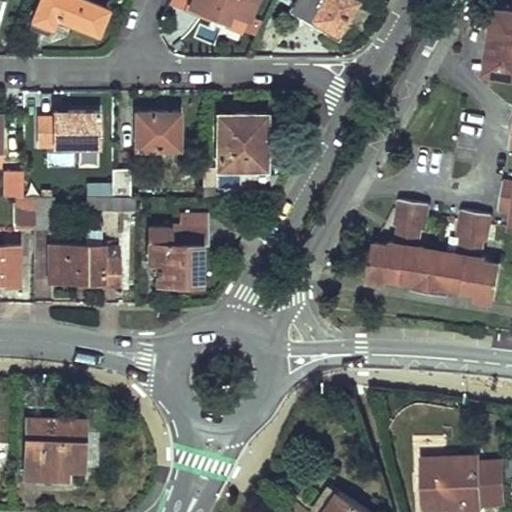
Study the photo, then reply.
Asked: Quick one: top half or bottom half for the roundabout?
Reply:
bottom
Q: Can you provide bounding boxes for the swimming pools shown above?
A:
[219,178,240,189]
[79,153,100,168]
[194,24,218,45]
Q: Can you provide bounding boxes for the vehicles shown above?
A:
[189,74,212,84]
[250,74,272,84]
[161,73,181,83]
[192,333,216,344]
[8,130,18,153]
[430,151,442,174]
[330,136,344,148]
[460,111,485,126]
[201,412,223,423]
[469,26,480,44]
[280,200,294,219]
[6,74,26,84]
[460,124,482,137]
[126,10,138,30]
[121,122,132,148]
[74,352,104,366]
[126,367,147,382]
[496,150,507,170]
[417,149,428,172]
[344,356,365,366]
[40,96,50,114]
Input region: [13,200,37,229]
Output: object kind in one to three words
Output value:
shed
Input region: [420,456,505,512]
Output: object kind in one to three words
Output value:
house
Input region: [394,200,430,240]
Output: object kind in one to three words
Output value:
building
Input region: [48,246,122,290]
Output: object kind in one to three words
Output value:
house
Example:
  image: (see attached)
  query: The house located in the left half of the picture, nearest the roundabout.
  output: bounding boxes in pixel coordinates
[148,212,210,294]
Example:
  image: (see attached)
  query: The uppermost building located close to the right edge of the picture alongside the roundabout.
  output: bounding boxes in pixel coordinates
[366,243,501,311]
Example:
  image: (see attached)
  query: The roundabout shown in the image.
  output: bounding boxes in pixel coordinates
[146,294,304,457]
